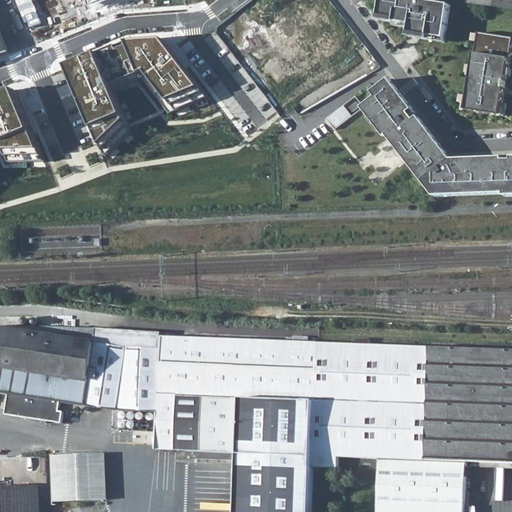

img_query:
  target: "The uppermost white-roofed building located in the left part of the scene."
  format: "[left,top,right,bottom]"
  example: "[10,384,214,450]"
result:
[16,0,44,30]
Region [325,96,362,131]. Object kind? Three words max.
building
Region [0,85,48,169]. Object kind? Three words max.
building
